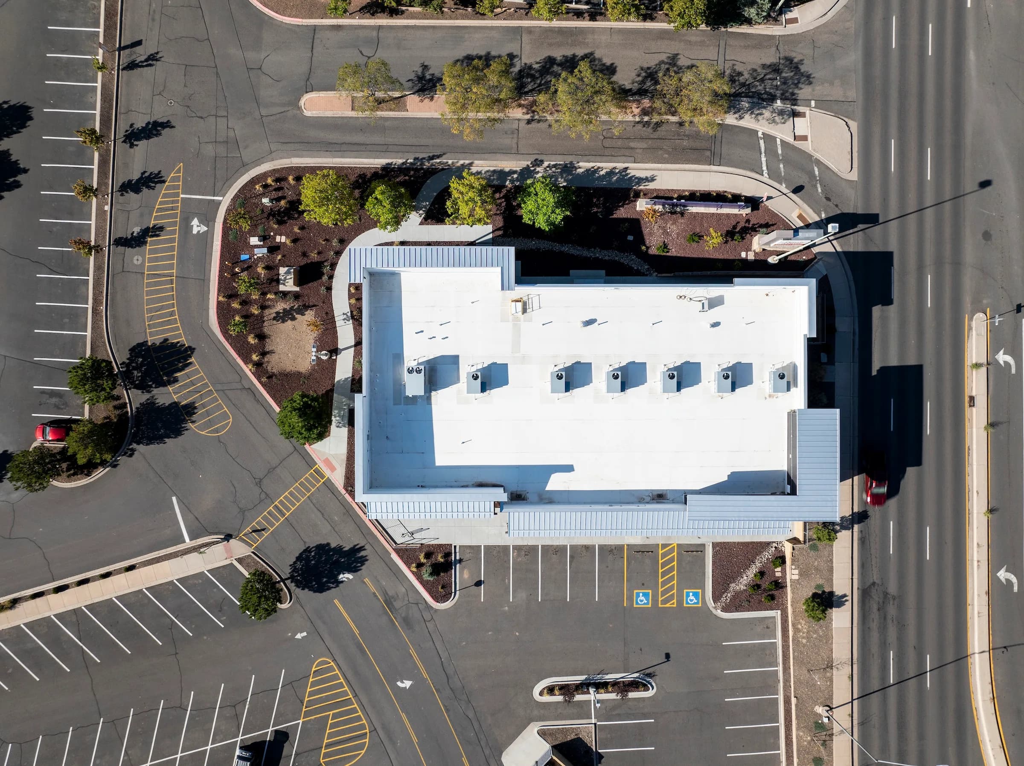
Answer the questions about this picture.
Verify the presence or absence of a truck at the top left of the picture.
No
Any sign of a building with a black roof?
No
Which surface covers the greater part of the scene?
paved ground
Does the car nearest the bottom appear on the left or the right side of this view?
left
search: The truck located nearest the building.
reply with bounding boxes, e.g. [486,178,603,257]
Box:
[863,450,891,507]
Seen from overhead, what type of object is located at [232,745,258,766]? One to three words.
car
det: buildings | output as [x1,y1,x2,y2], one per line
[349,246,841,536]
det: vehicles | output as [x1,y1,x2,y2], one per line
[38,421,83,444]
[863,450,891,507]
[232,745,258,766]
